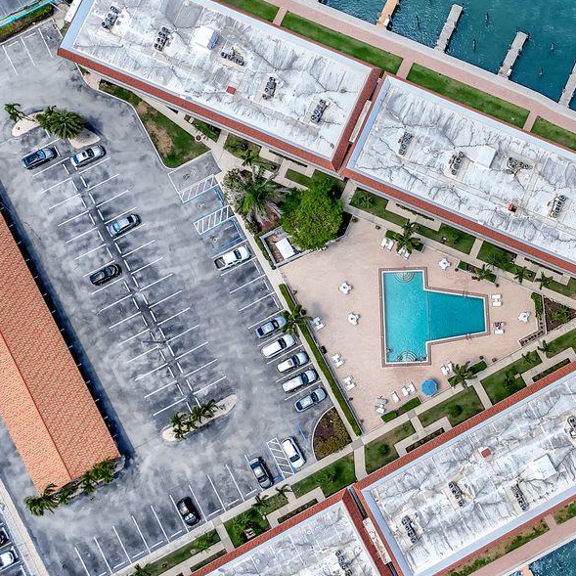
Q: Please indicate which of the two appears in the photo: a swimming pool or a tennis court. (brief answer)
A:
swimming pool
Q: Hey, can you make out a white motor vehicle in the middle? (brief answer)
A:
Yes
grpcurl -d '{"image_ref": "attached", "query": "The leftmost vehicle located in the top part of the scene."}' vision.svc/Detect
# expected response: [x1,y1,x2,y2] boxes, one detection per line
[19,145,60,171]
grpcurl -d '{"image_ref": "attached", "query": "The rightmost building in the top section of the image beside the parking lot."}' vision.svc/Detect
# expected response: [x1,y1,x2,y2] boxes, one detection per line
[339,69,576,278]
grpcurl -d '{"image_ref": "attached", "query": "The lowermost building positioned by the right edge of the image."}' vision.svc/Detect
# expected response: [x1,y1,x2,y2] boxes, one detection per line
[351,362,576,576]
